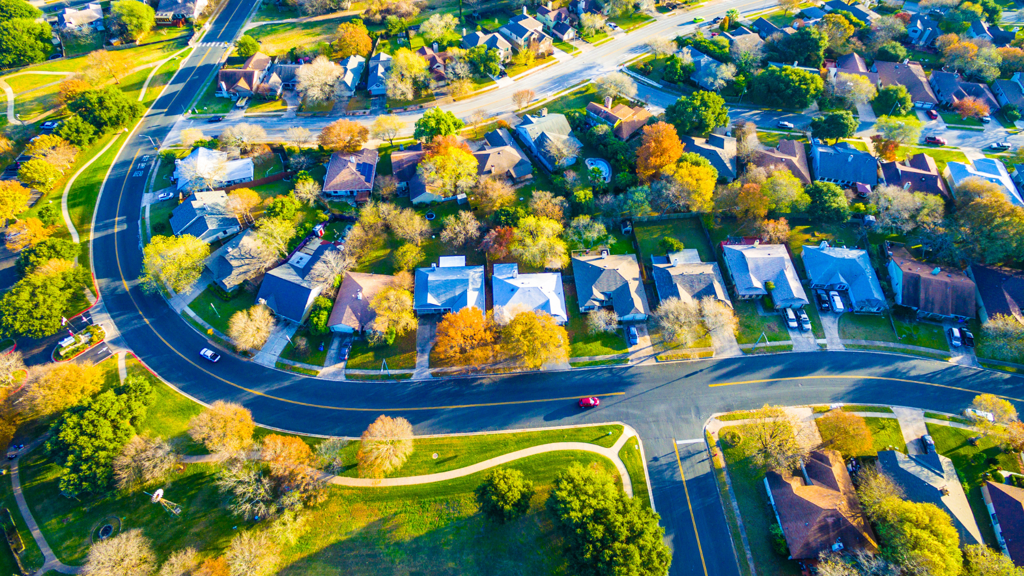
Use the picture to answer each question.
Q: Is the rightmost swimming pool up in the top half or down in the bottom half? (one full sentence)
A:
You can find the rightmost swimming pool in the top half.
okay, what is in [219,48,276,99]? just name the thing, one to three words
house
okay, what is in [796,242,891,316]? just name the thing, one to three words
house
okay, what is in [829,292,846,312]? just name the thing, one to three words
vehicle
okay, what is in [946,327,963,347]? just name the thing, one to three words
car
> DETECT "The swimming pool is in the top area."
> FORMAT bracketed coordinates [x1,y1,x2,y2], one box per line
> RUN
[586,157,612,183]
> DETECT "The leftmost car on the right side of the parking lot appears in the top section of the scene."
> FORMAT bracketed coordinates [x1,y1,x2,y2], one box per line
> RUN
[156,190,177,202]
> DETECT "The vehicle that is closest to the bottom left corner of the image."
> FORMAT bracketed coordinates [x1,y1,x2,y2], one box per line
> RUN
[198,347,223,363]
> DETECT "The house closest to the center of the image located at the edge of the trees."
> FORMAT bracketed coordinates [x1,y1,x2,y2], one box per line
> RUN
[492,263,568,328]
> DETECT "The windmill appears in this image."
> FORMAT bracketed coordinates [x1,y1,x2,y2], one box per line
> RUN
[149,484,186,520]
